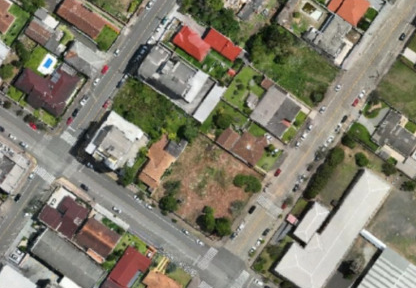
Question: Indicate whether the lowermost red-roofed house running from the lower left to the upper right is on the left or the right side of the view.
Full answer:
The lowermost red-roofed house running from the lower left to the upper right sits on the left side.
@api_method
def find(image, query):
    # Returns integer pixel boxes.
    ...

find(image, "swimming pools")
[42,57,54,69]
[301,1,317,13]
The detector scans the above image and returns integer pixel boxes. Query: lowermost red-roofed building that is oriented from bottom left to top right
[103,244,150,288]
